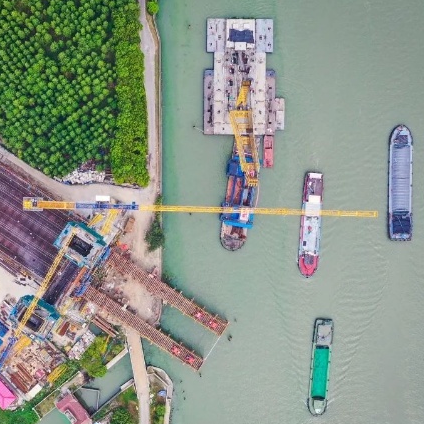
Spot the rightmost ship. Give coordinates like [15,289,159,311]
[388,124,413,241]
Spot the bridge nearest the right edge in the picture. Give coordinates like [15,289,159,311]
[125,332,150,399]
